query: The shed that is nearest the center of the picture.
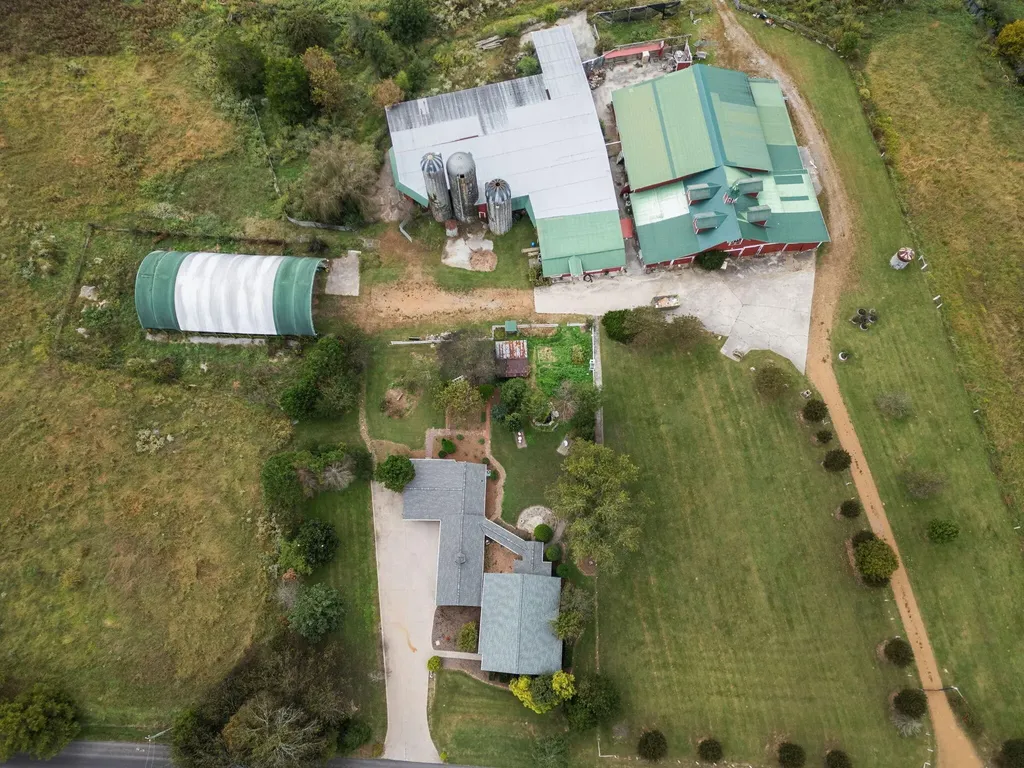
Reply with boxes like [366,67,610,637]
[494,340,529,381]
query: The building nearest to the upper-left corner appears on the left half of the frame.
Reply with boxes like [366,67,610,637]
[134,250,329,339]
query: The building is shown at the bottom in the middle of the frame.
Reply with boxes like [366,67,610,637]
[401,459,563,674]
